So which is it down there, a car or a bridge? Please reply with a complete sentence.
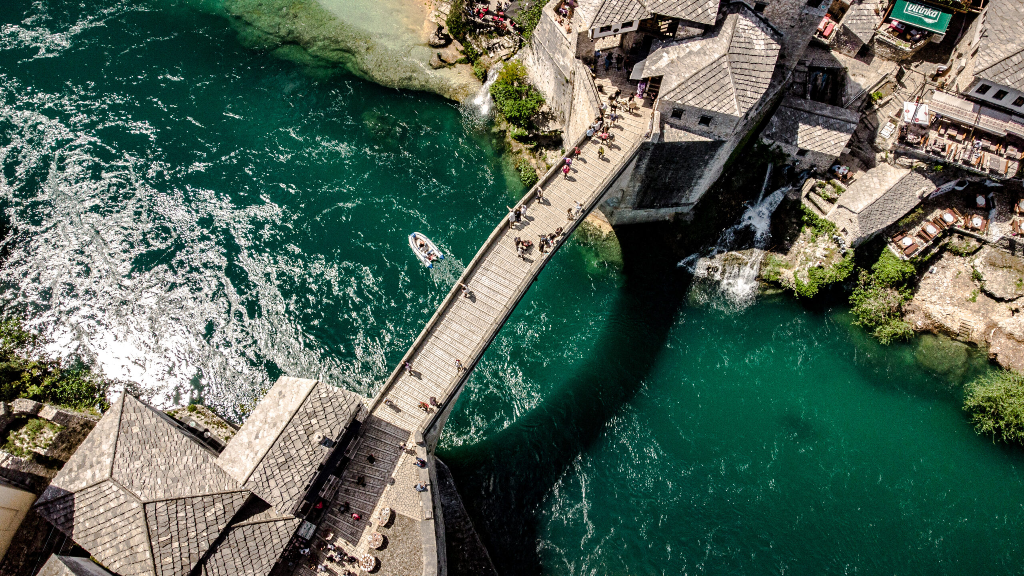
Visible in the photo is a bridge.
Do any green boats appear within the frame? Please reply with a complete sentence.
No, there's no green boat here.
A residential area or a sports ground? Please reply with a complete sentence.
It's a residential area.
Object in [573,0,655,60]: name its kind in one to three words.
building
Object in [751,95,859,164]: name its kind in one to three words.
house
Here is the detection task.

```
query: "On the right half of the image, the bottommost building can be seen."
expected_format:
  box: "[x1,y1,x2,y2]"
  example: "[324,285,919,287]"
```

[831,162,935,244]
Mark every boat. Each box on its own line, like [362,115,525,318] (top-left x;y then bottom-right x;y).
[410,230,446,269]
